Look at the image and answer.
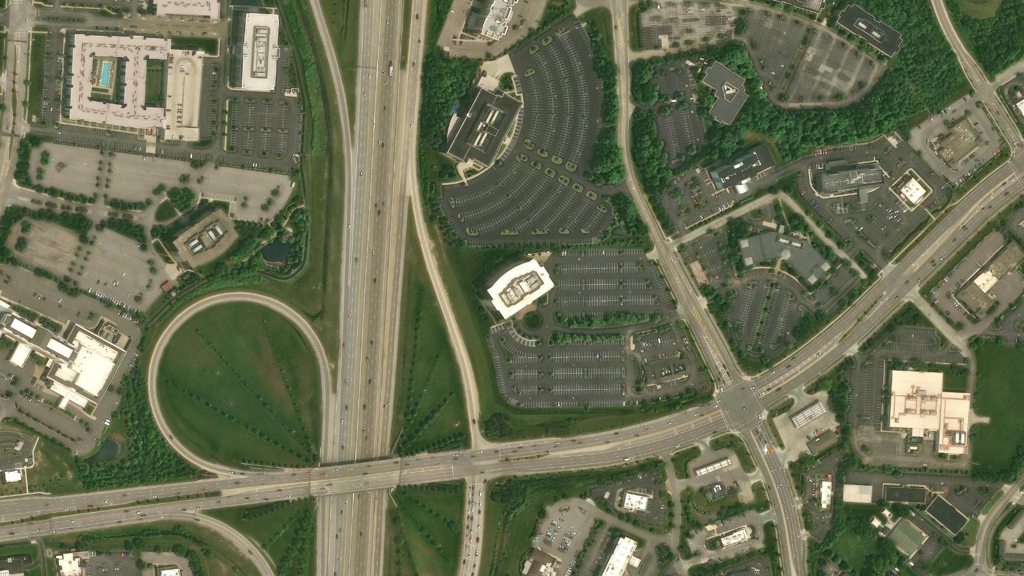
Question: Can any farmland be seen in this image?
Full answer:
No, the picture contains no farmland.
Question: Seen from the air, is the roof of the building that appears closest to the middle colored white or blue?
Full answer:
The roof of the building that appears closest to the middle is white.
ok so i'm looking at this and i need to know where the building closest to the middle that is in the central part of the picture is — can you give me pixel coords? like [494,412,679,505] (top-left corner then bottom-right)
[478,258,555,319]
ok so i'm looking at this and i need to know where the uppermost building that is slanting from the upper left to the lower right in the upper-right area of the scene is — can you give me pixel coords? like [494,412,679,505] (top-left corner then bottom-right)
[832,4,903,57]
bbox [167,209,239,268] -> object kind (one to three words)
building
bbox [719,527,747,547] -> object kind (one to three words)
building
